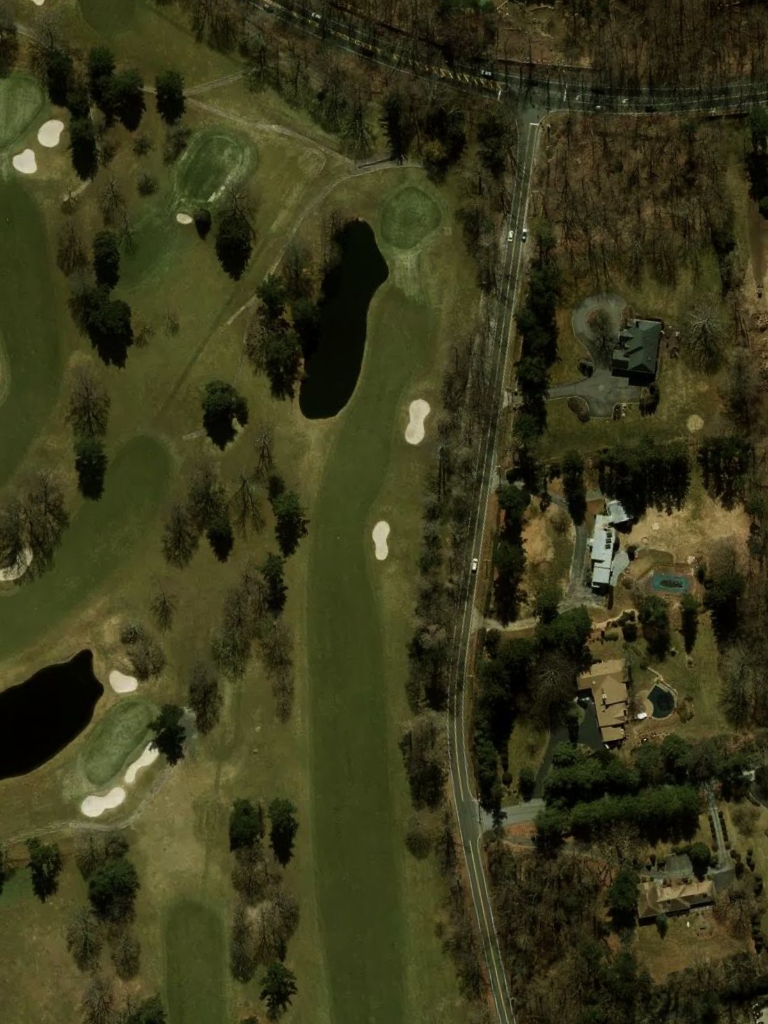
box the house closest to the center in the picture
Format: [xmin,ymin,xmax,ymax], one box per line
[587,501,630,586]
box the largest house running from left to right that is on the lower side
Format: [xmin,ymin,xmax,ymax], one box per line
[638,879,716,919]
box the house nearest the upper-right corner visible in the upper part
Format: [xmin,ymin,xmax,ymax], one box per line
[612,318,662,373]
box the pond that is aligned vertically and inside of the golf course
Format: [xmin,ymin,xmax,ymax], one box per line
[299,219,389,420]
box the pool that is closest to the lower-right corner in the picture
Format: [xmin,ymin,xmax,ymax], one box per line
[634,684,677,720]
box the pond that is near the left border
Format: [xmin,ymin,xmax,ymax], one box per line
[0,650,104,779]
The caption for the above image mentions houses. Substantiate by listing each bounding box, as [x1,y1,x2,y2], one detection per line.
[612,318,662,373]
[638,879,716,919]
[579,660,629,742]
[587,501,630,586]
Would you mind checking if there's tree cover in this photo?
Yes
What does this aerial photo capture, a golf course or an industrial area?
golf course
